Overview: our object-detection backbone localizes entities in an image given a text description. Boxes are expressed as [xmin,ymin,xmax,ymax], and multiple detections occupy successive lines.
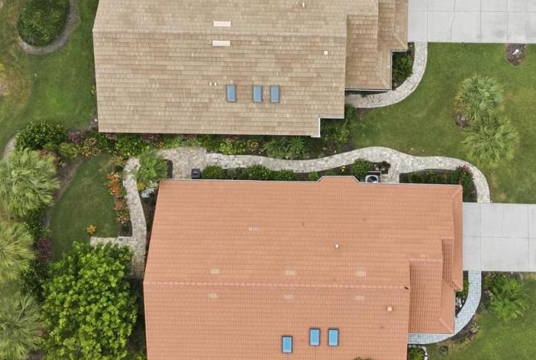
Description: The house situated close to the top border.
[93,0,408,137]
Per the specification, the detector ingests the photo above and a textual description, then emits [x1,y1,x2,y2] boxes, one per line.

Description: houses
[143,175,463,360]
[93,0,408,137]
